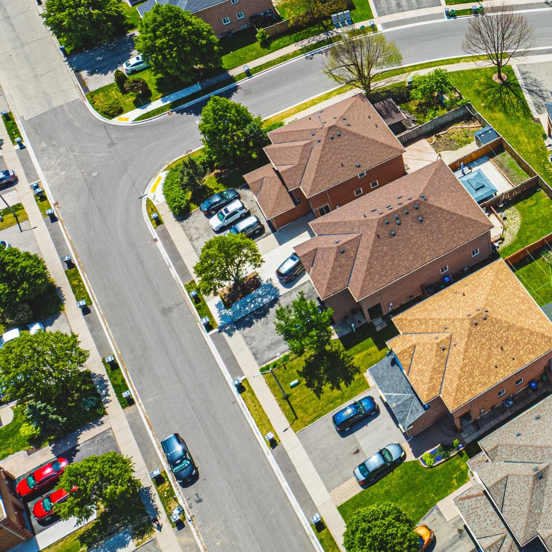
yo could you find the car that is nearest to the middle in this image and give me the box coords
[271,258,303,285]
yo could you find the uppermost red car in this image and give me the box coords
[16,458,63,497]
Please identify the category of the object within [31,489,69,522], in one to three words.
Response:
car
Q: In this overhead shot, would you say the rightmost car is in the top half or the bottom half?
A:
bottom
